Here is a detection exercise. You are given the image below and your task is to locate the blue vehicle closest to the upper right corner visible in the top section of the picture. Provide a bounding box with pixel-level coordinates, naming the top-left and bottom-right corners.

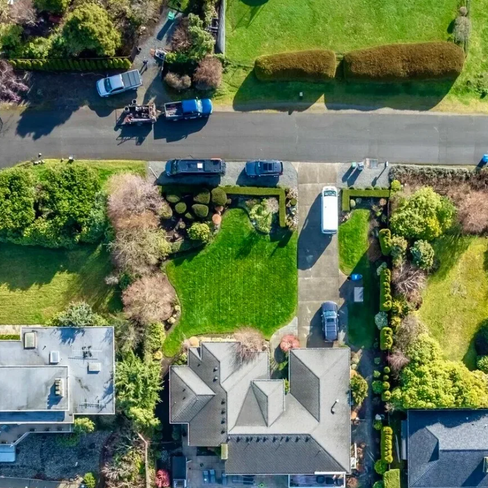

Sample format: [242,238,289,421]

[244,157,284,178]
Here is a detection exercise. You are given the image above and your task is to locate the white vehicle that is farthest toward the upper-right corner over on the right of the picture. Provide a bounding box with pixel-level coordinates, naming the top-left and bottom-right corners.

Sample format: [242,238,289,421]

[319,186,341,236]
